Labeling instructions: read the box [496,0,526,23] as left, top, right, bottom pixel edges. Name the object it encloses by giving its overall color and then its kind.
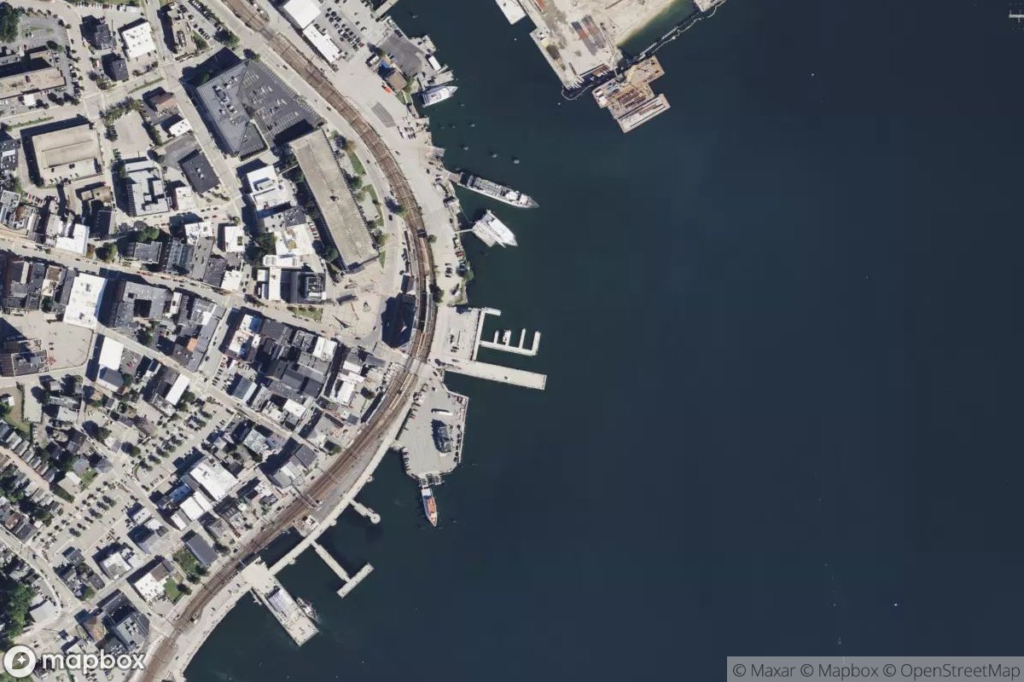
white ship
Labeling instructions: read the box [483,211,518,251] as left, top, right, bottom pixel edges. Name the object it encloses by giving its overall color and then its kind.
white ship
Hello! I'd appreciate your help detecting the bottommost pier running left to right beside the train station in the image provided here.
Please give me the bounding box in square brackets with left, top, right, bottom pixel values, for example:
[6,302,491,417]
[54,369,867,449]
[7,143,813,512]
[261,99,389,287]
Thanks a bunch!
[444,359,546,390]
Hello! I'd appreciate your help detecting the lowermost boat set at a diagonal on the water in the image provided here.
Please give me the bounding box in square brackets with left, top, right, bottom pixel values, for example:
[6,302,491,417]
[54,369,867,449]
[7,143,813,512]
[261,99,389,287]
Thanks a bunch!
[296,597,316,619]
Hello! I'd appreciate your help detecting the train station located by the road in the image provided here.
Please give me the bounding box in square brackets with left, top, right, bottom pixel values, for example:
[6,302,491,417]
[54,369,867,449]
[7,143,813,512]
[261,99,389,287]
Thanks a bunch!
[385,228,436,415]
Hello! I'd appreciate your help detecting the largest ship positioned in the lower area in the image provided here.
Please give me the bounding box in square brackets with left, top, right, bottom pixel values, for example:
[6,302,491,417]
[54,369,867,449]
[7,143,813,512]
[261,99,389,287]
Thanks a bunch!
[421,487,439,527]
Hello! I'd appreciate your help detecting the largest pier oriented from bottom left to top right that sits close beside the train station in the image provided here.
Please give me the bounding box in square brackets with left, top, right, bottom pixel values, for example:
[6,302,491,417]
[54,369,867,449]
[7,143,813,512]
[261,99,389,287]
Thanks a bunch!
[270,433,400,578]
